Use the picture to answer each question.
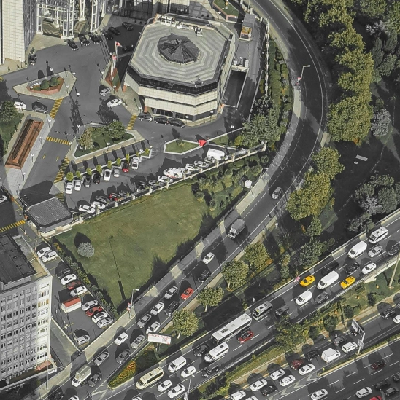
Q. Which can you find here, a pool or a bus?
bus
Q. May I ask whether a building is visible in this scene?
Yes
